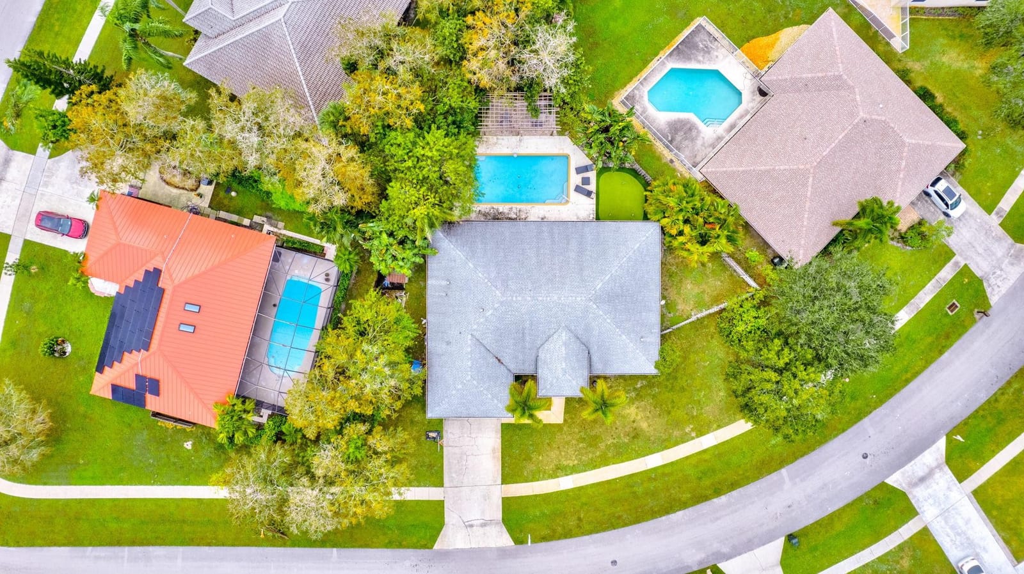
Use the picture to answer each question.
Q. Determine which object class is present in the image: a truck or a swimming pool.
swimming pool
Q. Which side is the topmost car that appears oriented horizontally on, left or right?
left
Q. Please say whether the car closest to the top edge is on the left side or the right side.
right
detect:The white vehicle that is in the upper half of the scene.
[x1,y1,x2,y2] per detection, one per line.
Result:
[925,173,970,222]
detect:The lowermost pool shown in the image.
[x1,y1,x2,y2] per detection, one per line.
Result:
[267,278,322,377]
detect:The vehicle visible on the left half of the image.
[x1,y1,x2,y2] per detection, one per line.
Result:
[28,208,85,240]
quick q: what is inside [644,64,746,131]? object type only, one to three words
swimming pool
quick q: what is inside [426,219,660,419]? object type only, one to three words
house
